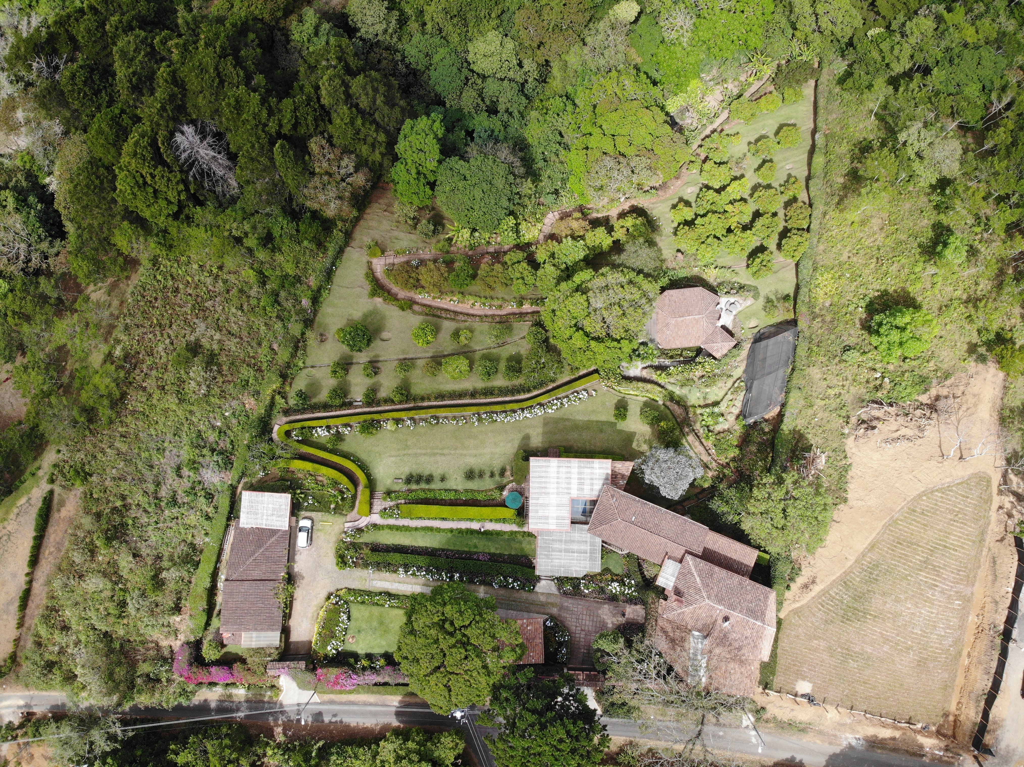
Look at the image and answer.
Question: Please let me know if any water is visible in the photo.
No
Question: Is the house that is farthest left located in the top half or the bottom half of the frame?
bottom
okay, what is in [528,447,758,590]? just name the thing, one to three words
house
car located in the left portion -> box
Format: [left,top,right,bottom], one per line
[297,518,313,549]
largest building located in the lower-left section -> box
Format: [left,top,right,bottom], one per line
[220,488,298,648]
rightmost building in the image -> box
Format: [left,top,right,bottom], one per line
[742,320,799,421]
